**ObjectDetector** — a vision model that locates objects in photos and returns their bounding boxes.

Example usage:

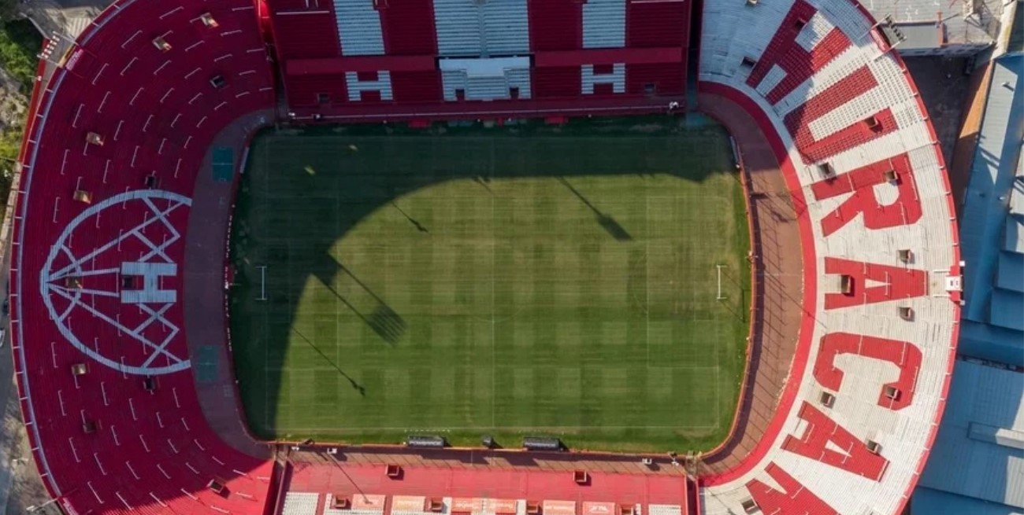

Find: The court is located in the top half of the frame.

[213,147,233,181]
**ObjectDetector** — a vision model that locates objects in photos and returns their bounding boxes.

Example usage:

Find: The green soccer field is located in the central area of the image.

[226,114,751,457]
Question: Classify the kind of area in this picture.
sports ground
